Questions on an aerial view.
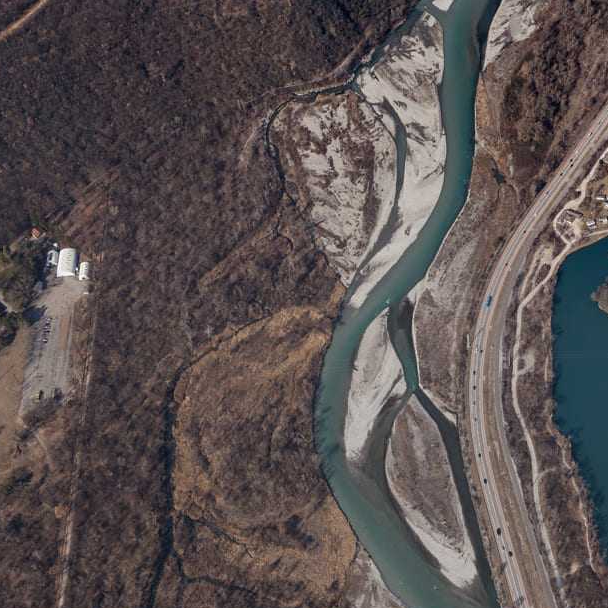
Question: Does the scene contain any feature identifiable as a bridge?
No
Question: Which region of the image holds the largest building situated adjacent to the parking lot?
left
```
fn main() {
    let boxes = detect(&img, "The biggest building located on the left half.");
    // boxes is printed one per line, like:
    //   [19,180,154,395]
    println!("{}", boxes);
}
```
[56,249,77,277]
